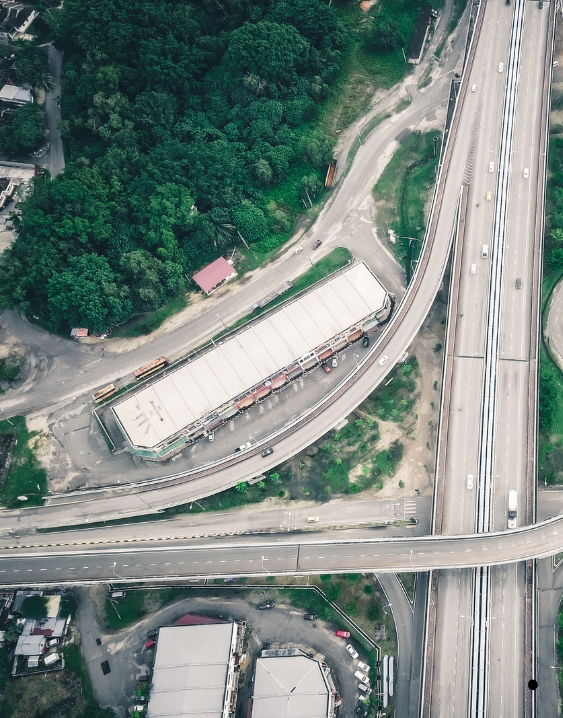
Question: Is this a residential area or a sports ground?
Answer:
residential area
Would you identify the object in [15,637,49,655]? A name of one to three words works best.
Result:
house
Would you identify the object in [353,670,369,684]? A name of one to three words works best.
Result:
car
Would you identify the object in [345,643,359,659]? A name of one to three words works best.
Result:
car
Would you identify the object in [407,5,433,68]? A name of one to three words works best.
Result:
shed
